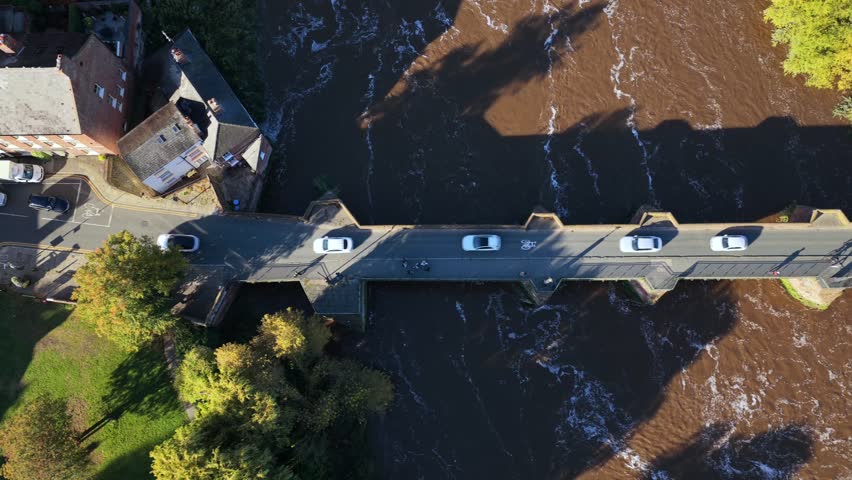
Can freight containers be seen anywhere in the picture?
No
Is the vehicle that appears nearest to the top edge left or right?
left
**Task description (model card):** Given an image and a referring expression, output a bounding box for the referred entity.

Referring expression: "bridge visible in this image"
[220,195,852,329]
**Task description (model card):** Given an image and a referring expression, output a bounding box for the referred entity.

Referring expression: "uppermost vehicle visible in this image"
[0,159,44,183]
